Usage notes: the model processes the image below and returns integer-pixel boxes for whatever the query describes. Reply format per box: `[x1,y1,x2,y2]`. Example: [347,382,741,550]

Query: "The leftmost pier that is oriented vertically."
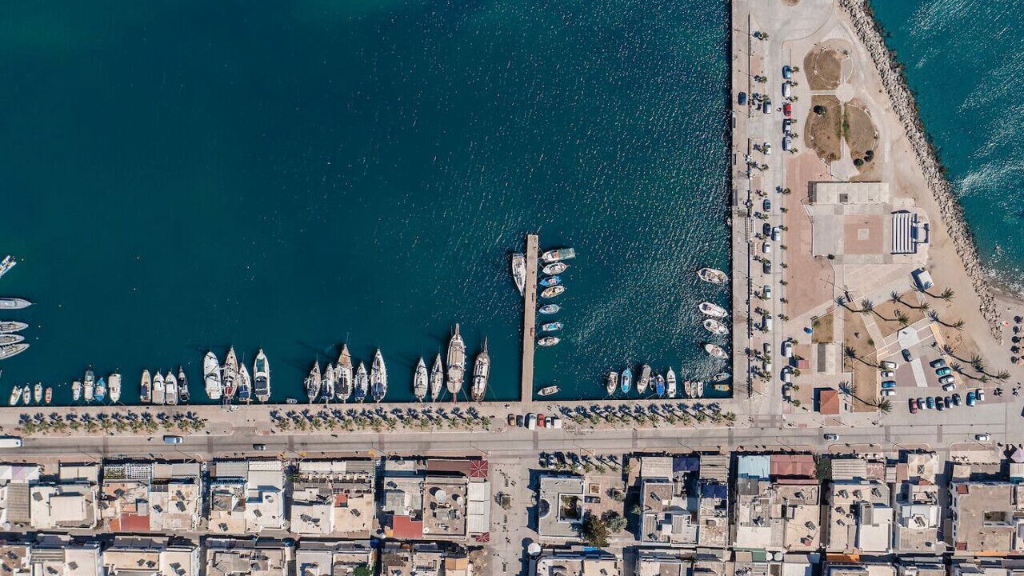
[521,234,539,402]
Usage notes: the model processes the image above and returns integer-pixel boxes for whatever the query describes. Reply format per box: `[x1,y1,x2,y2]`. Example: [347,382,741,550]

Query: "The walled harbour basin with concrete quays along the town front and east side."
[0,0,749,413]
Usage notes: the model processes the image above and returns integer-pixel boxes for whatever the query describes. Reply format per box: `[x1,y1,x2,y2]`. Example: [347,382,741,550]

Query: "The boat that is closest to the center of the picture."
[512,253,526,296]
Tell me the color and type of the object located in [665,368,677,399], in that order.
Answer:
white boat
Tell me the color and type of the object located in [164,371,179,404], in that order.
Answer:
white boat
